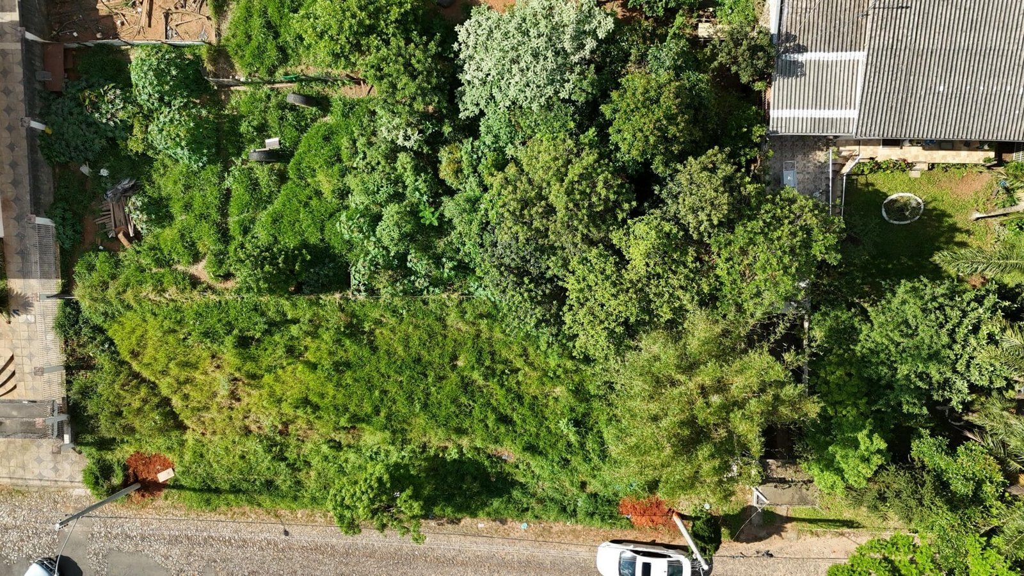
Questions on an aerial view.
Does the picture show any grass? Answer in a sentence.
Yes, grass can be seen from above here.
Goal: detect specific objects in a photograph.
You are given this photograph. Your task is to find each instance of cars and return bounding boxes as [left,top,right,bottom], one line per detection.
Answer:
[14,557,61,576]
[595,543,695,576]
